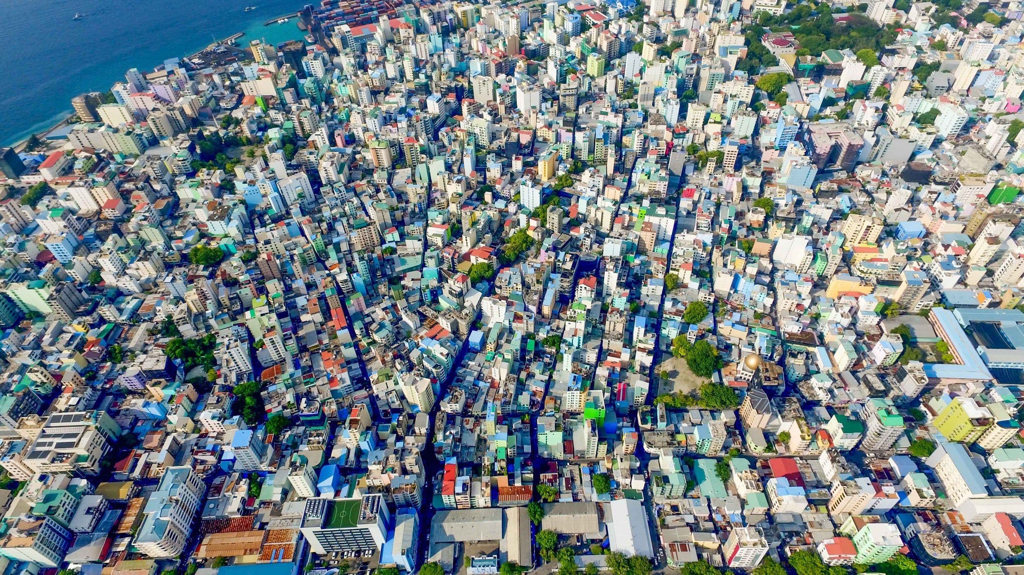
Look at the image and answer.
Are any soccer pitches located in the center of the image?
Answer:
No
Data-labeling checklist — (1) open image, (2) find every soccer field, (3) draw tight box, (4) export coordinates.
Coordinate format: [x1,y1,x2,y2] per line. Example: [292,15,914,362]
[323,498,362,526]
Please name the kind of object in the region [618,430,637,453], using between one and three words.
building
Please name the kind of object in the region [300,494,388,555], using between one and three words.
building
